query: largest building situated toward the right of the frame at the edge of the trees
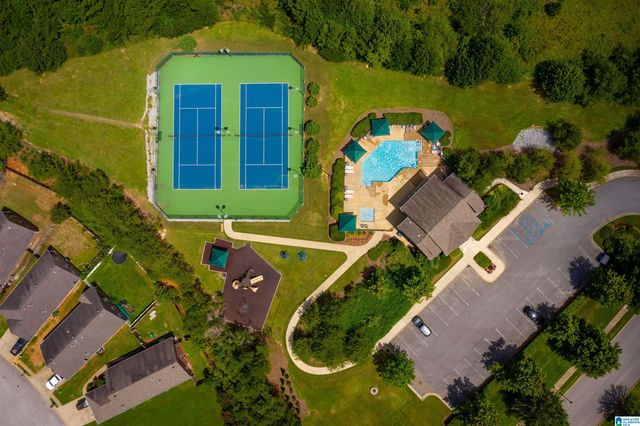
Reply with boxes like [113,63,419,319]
[397,171,486,260]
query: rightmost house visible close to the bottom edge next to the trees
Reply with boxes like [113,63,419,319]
[84,334,194,422]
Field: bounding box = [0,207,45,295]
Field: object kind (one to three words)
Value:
house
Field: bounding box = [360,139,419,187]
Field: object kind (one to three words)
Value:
swimming pool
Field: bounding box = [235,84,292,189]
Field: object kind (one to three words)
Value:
tennis court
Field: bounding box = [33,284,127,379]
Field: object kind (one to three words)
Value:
house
